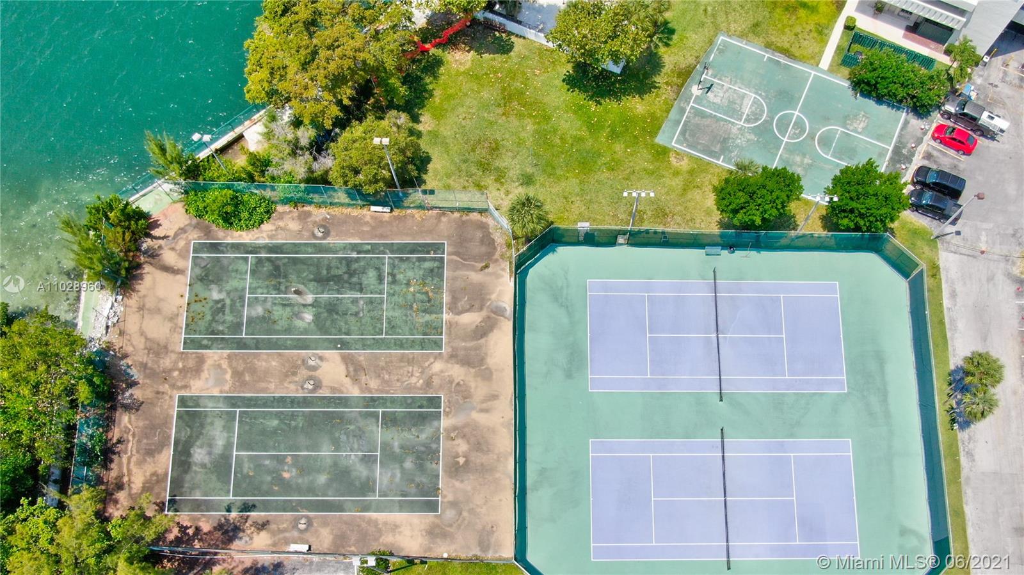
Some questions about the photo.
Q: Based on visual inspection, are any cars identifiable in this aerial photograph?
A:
Yes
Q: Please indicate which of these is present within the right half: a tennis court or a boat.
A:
tennis court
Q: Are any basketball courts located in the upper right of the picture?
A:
Yes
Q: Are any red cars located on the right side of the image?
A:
Yes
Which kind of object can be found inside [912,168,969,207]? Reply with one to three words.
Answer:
car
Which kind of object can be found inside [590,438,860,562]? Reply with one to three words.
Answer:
tennis court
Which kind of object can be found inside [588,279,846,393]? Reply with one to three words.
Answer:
tennis court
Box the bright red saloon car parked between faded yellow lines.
[933,125,980,158]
